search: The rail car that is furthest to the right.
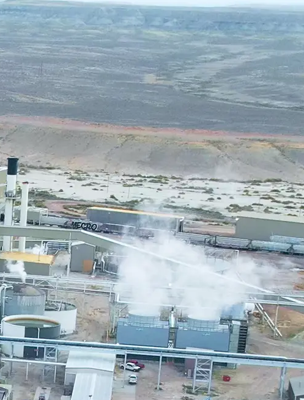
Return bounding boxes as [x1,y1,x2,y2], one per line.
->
[267,242,304,258]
